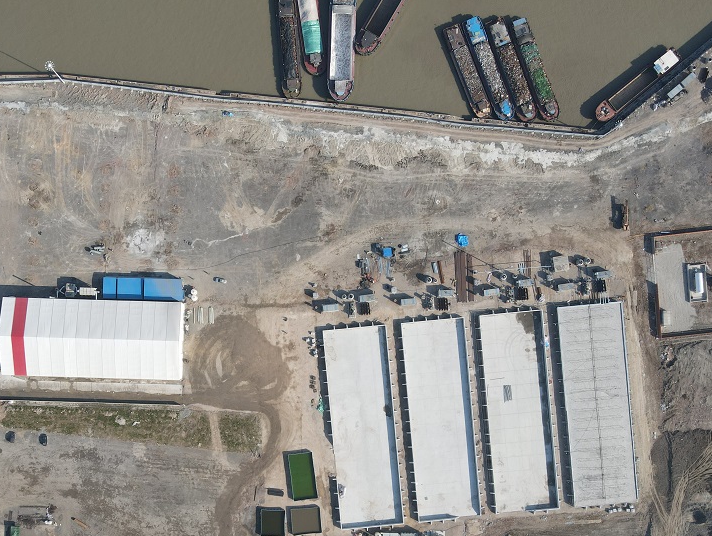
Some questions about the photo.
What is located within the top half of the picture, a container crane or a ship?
ship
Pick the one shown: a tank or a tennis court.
tank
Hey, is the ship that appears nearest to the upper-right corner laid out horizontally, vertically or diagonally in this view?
diagonally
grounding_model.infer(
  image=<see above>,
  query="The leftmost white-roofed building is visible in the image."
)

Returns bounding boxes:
[0,297,186,380]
